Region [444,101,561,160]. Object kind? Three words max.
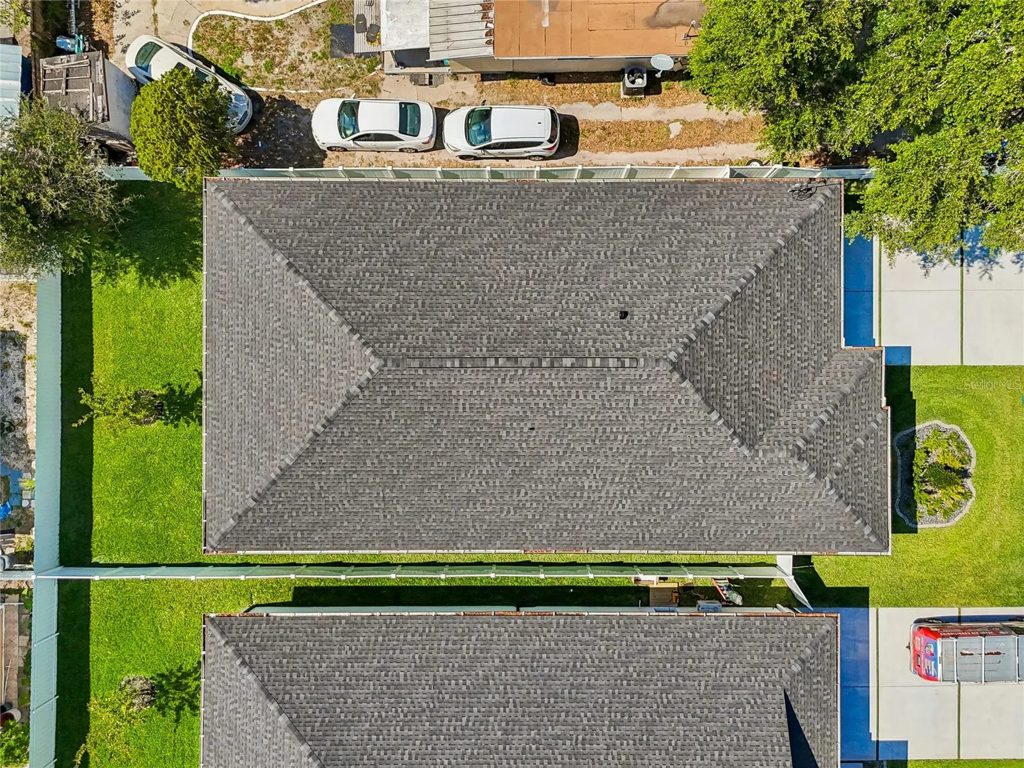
car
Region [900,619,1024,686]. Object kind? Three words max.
van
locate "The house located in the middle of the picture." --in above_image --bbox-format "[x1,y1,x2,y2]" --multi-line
[202,178,891,555]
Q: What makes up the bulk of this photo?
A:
buildings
